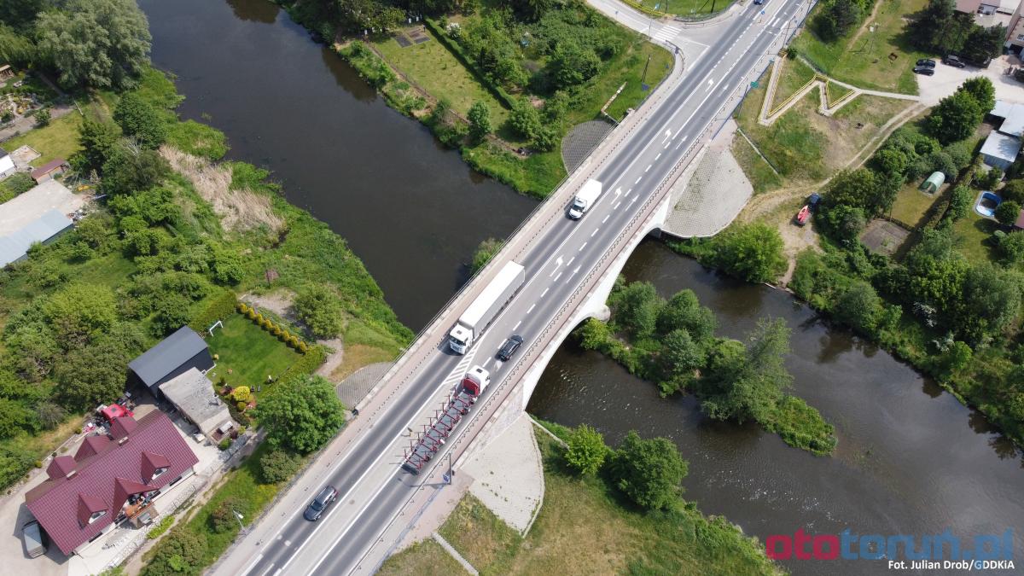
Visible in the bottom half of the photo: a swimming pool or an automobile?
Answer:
automobile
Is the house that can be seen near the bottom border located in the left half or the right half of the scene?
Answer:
left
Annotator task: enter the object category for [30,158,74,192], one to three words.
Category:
shed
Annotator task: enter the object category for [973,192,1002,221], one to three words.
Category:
swimming pool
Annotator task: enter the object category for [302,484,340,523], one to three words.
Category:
car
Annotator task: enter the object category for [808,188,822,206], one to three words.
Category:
car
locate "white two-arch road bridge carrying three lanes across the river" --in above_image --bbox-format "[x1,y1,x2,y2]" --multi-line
[345,105,716,479]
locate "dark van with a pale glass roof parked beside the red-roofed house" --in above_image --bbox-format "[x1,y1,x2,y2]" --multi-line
[17,519,46,560]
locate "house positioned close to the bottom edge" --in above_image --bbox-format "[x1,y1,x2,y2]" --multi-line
[27,409,200,558]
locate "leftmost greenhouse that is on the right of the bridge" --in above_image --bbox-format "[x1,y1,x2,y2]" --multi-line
[919,170,944,197]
